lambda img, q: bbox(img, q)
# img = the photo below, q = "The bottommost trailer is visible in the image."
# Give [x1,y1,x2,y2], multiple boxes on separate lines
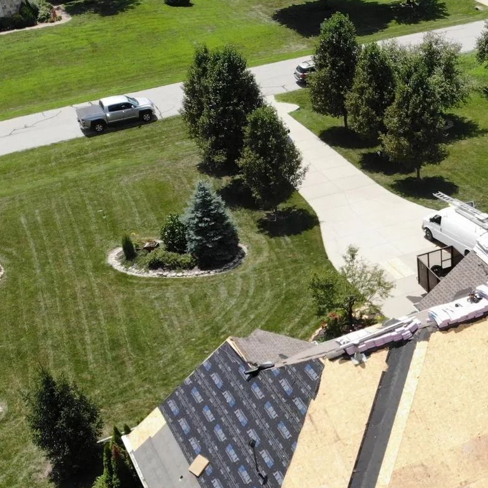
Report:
[419,246,462,289]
